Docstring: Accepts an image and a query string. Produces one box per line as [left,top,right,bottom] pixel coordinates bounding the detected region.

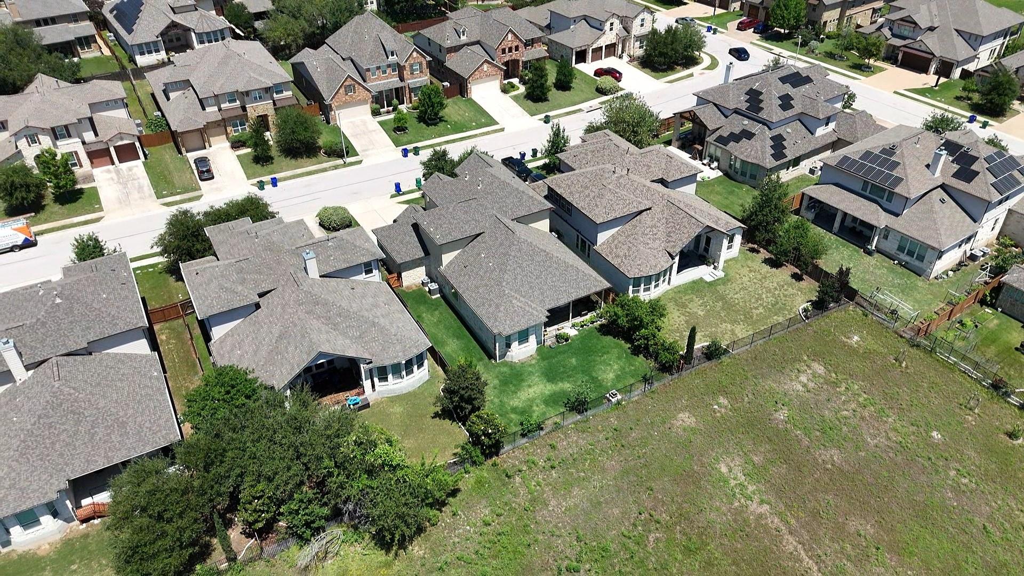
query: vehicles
[524,164,549,183]
[590,63,623,77]
[672,13,700,23]
[750,19,777,32]
[191,155,214,177]
[499,150,532,177]
[724,45,756,59]
[0,214,45,250]
[735,15,759,30]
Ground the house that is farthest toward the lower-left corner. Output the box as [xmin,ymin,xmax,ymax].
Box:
[0,250,184,550]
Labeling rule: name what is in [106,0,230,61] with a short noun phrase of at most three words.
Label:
house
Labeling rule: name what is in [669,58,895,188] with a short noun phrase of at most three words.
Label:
house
